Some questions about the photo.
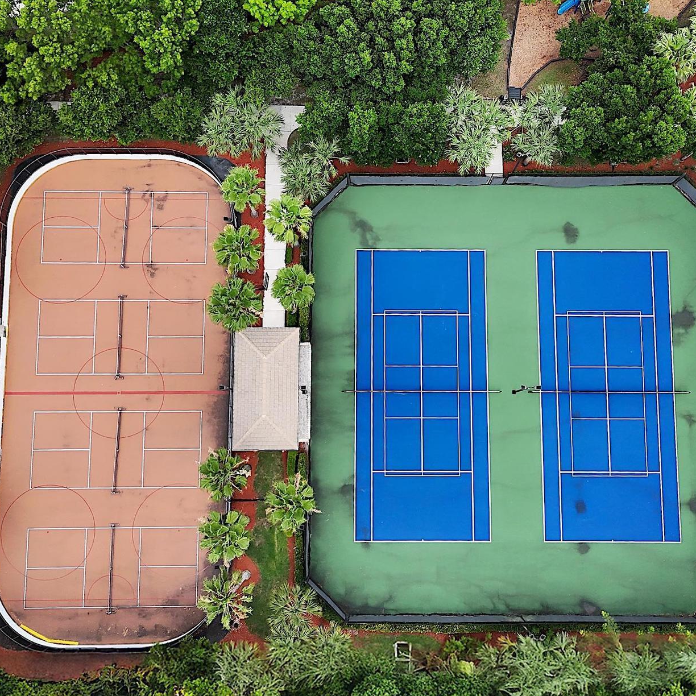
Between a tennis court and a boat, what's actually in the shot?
tennis court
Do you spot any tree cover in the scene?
Yes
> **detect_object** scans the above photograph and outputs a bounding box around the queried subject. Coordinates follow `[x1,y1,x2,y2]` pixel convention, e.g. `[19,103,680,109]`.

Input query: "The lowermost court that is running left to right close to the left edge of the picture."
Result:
[24,527,199,608]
